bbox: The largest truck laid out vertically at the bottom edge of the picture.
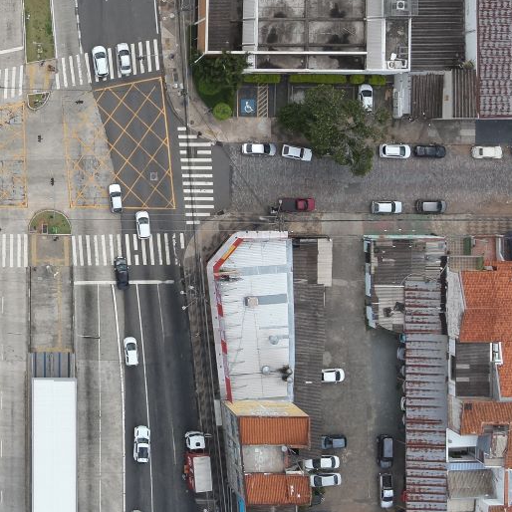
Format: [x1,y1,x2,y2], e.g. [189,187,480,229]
[183,429,209,495]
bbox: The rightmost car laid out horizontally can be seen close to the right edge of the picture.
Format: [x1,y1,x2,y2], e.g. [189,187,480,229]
[469,145,503,161]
